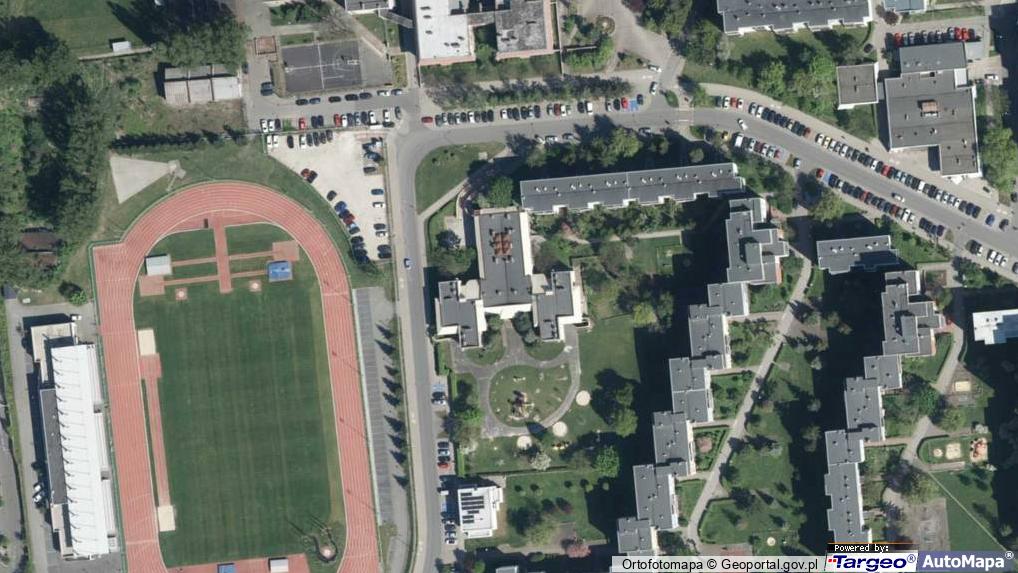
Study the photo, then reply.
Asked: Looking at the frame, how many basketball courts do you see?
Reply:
1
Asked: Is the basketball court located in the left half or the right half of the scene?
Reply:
left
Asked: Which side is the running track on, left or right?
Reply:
left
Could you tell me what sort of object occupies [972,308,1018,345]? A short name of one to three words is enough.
building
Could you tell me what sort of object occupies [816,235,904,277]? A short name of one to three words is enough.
building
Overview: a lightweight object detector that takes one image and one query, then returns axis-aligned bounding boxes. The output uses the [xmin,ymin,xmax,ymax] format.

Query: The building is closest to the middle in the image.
[437,204,580,348]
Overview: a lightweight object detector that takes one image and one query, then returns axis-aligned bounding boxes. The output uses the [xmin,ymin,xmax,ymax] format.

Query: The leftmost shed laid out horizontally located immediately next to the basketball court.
[164,65,247,105]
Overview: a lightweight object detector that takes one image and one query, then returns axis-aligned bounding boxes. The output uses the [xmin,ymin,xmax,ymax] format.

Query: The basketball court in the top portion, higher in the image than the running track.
[281,41,362,90]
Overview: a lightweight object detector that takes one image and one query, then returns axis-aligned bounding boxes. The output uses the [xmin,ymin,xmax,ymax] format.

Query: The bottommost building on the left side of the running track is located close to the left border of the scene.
[30,322,81,558]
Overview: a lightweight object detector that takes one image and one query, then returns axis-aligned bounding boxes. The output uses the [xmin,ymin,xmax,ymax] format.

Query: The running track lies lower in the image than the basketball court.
[93,181,371,573]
